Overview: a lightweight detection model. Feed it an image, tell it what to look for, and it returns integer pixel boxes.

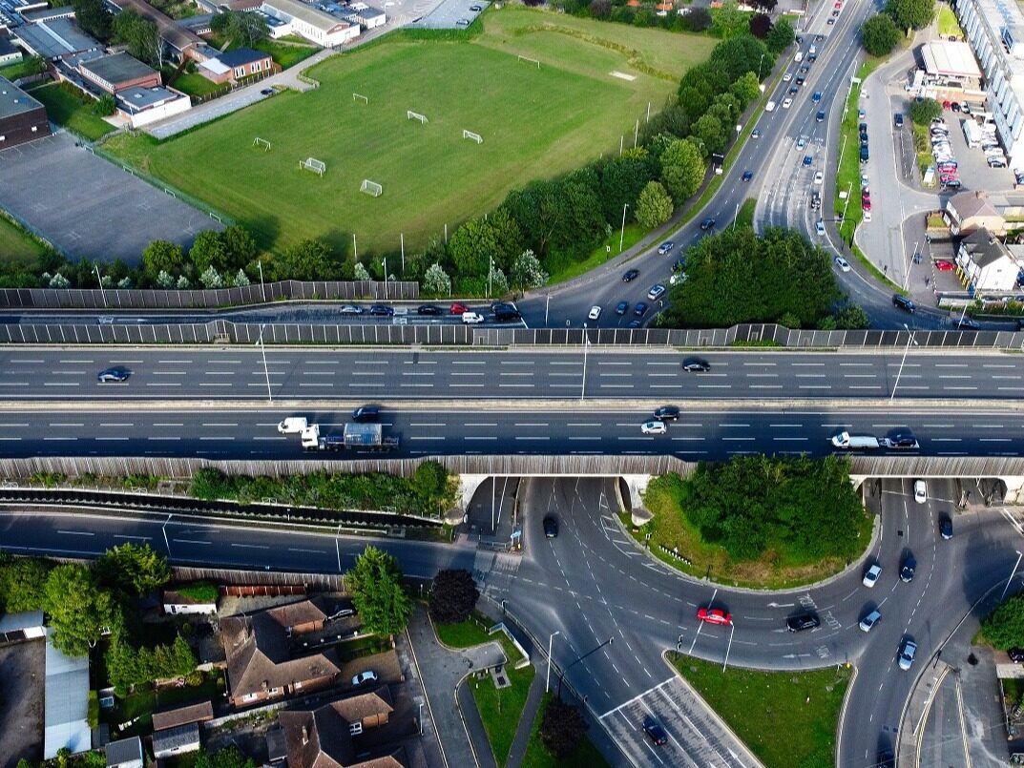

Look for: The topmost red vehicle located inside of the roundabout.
[697,608,731,626]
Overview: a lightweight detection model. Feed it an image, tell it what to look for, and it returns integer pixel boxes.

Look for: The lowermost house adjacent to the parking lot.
[961,216,1019,289]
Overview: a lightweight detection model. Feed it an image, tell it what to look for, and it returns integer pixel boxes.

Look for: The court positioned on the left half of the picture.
[0,135,226,269]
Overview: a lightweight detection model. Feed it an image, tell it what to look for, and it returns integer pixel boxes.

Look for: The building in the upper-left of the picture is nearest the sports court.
[0,74,51,149]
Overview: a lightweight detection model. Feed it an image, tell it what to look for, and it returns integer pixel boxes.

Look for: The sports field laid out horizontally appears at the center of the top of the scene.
[100,7,720,286]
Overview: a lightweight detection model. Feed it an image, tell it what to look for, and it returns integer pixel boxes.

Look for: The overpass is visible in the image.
[0,343,1024,530]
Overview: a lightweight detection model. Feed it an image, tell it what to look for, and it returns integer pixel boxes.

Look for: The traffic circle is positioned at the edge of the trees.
[0,478,1024,768]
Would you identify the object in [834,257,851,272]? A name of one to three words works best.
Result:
car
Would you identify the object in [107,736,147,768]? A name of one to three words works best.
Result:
shed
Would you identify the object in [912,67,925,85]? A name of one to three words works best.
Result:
vehicle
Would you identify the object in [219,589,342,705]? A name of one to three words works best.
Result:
house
